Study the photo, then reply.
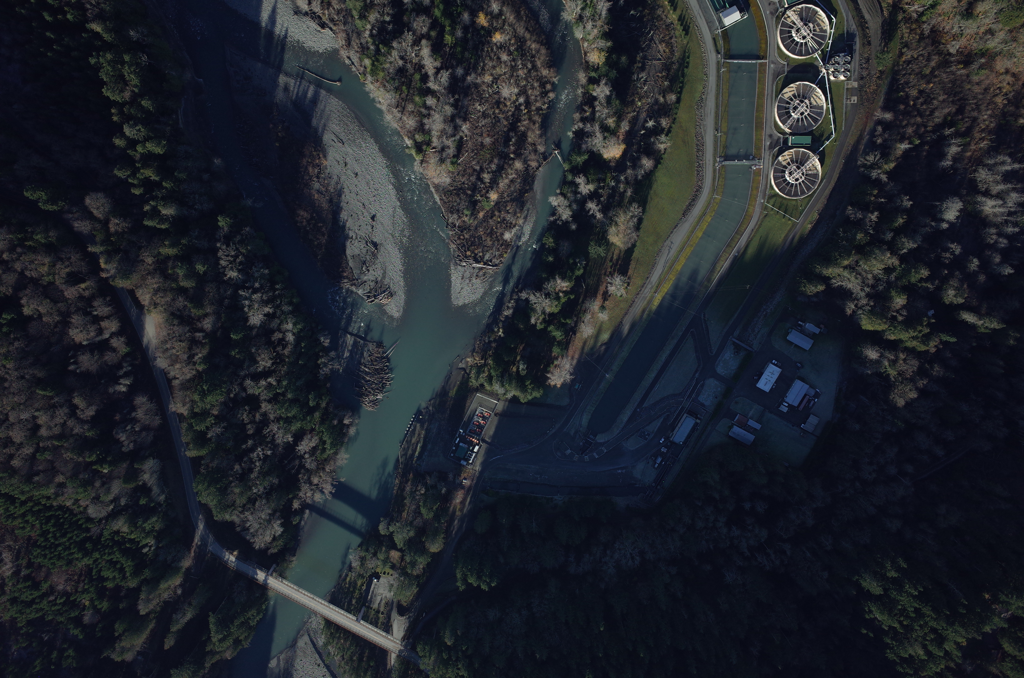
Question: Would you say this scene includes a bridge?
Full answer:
Yes, a bridge can be made out from above.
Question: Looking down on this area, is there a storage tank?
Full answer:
Yes, there's a storage tank down there.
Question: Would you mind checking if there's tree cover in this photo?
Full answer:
Yes, tree cover shows up in the scene.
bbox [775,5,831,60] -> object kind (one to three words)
storage tank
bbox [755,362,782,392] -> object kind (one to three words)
building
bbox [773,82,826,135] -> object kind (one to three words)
storage tank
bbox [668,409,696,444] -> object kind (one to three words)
building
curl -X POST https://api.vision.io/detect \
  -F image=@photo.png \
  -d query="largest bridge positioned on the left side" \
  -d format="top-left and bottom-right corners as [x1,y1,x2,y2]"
[219,544,412,660]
